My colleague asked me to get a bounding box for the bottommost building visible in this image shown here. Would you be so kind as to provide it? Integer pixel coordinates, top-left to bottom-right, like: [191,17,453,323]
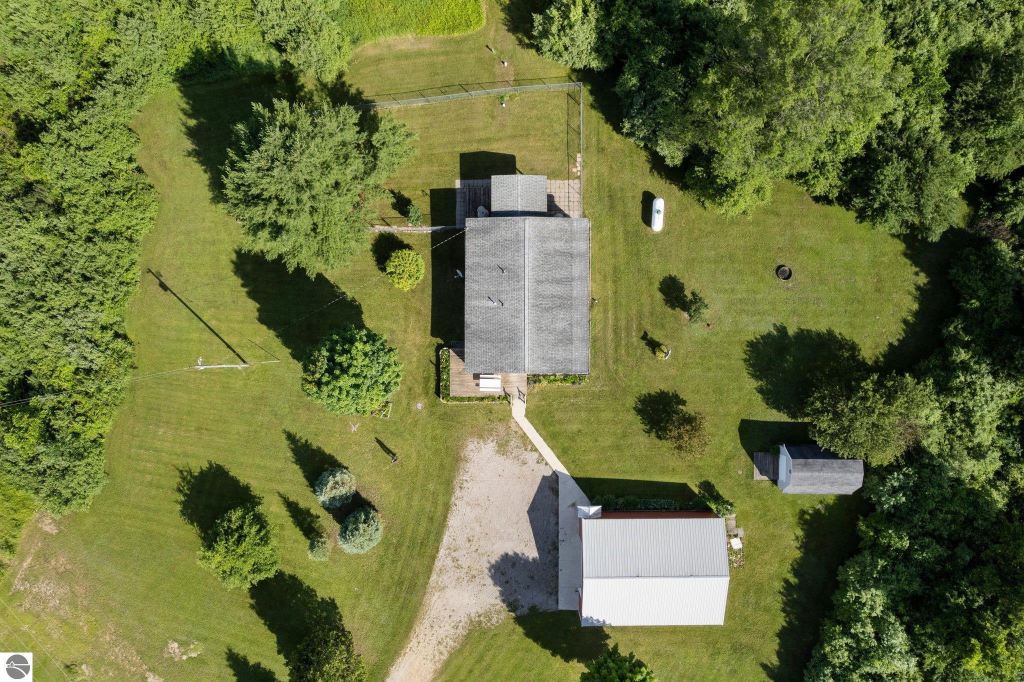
[578,506,730,626]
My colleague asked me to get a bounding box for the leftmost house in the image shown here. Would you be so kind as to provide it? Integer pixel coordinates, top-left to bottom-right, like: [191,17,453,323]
[465,175,591,374]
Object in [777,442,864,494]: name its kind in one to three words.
shed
